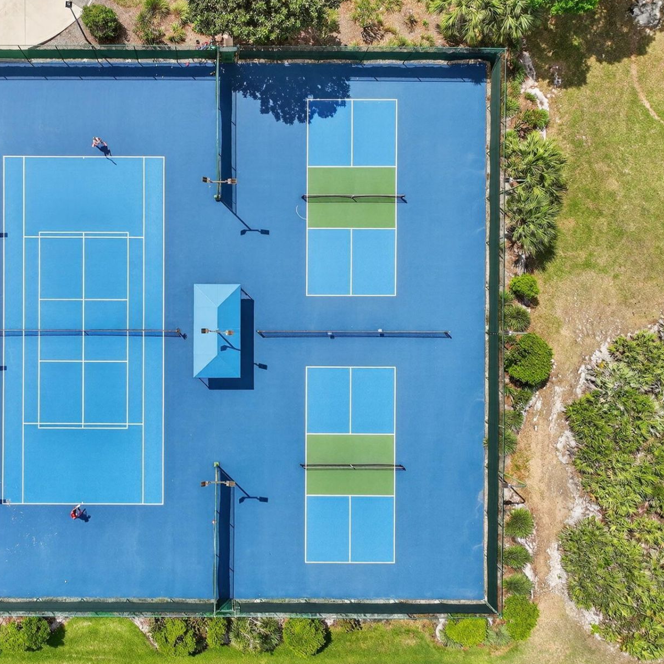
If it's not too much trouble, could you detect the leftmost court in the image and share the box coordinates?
[2,155,165,505]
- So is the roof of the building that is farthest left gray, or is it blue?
blue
